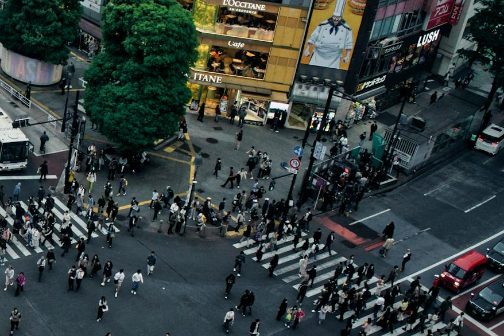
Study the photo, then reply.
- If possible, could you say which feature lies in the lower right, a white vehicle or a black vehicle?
black vehicle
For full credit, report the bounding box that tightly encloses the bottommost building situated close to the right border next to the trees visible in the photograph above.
[375,84,499,165]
